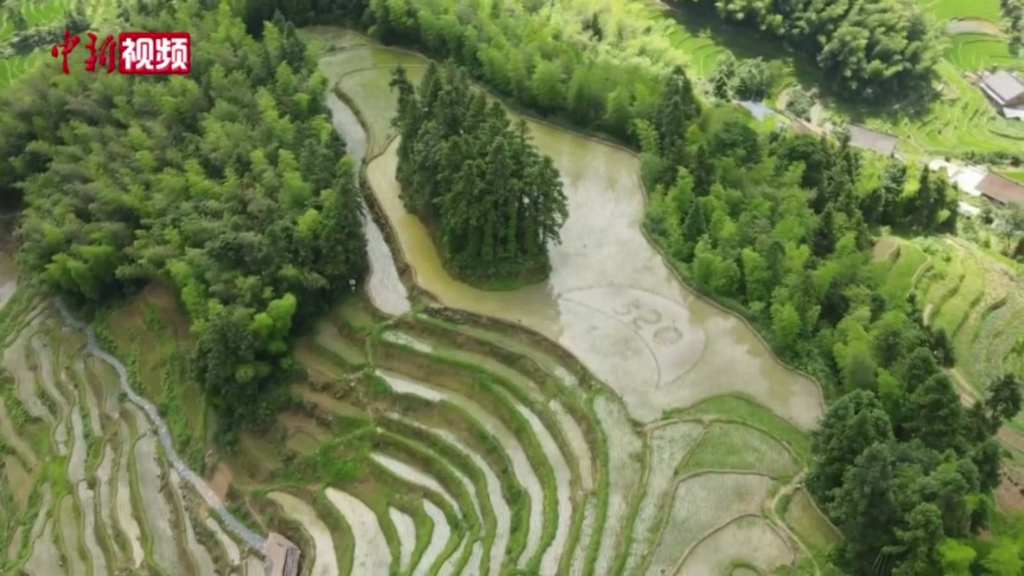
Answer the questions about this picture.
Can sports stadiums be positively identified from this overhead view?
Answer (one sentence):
No, the picture doesn't show any sports stadium.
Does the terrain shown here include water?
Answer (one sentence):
Yes, water can be seen from above here.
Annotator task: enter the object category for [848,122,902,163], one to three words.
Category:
house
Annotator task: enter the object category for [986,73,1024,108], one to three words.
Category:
house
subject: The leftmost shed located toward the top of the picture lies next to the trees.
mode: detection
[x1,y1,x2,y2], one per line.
[747,100,791,121]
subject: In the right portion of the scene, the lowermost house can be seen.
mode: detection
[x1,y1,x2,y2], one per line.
[977,173,1024,226]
